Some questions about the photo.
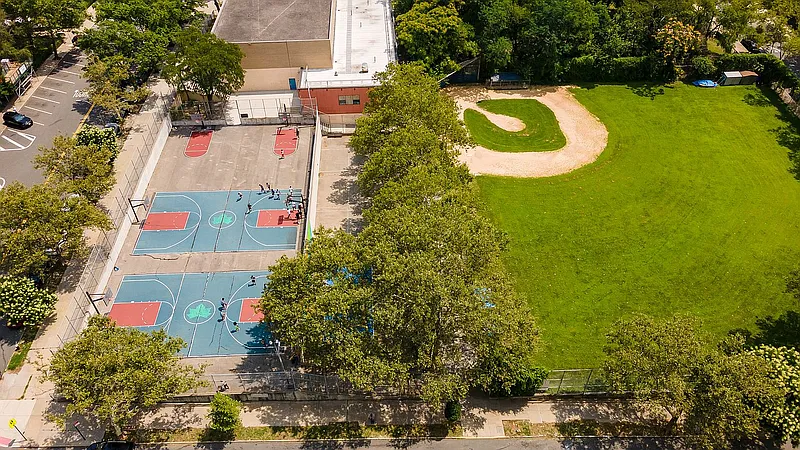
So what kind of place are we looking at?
sports ground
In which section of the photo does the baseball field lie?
right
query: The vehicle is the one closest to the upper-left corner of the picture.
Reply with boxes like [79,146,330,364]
[2,113,29,129]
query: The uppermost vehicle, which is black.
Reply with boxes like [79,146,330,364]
[740,40,760,52]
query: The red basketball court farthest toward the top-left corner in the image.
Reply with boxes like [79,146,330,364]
[184,130,214,159]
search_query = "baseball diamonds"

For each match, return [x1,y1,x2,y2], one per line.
[433,80,800,390]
